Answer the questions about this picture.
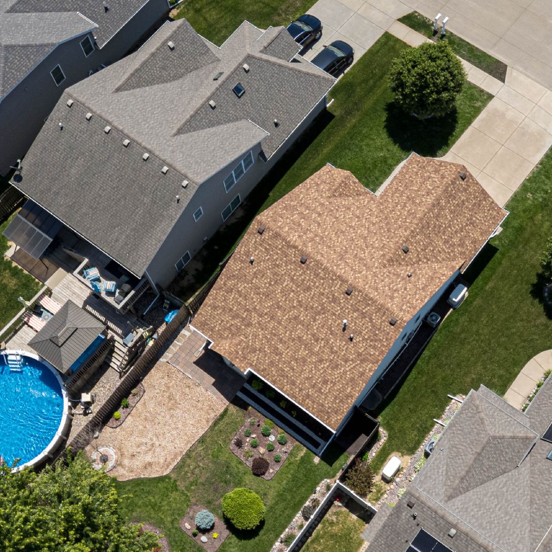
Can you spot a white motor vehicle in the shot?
No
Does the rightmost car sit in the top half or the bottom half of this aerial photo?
top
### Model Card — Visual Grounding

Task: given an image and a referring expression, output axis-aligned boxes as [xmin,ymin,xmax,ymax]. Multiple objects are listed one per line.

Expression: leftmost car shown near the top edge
[288,13,323,59]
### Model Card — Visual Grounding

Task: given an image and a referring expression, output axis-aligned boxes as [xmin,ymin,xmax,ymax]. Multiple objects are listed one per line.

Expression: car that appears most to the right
[308,36,355,79]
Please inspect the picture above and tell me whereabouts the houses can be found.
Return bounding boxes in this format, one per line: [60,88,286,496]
[362,367,552,552]
[189,154,510,444]
[6,20,341,328]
